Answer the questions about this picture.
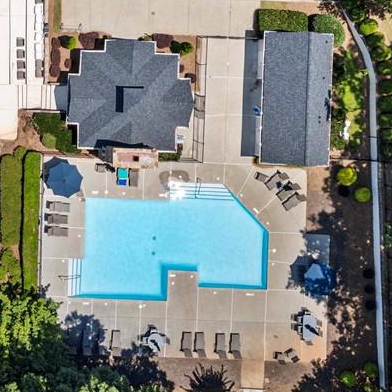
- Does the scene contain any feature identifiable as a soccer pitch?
No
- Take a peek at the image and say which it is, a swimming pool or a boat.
swimming pool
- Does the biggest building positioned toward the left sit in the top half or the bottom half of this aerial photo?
top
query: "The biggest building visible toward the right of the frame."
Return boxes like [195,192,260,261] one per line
[254,31,335,169]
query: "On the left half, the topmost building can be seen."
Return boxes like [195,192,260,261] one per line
[66,38,196,155]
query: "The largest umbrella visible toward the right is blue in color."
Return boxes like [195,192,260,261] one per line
[300,260,333,294]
